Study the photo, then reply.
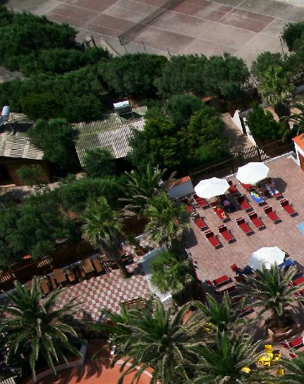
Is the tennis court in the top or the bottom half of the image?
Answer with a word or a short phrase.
top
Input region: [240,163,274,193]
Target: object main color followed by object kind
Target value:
white umbrella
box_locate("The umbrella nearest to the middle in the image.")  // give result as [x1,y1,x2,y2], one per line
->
[197,177,232,206]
